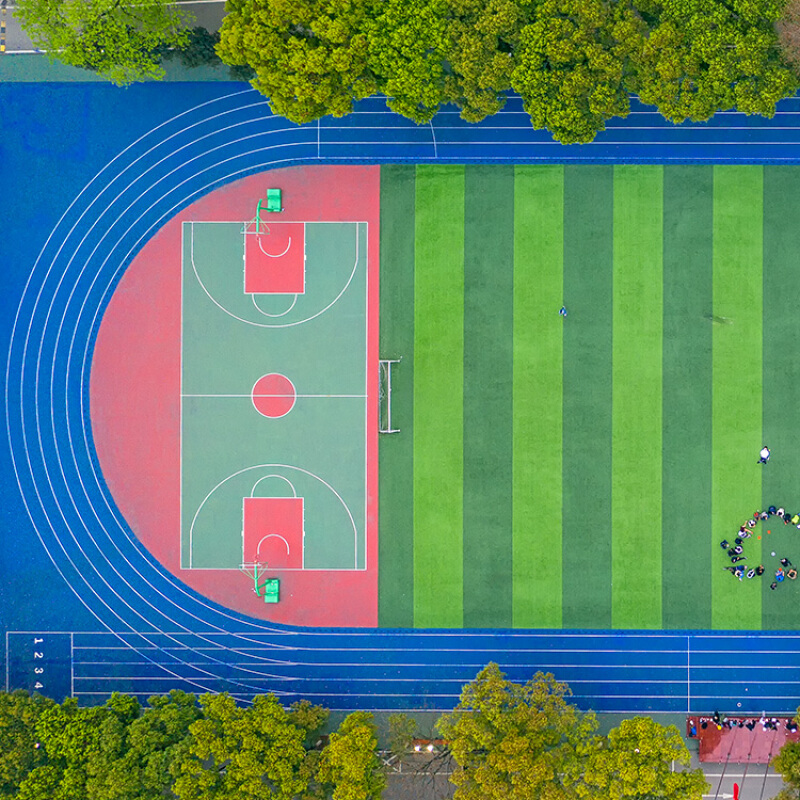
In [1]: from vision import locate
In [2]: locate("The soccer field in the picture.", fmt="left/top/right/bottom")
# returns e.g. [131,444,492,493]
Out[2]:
[380,165,800,630]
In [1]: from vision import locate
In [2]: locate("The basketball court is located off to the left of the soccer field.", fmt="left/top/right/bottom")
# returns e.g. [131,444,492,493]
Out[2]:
[89,165,380,628]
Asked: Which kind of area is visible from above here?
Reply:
sports ground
